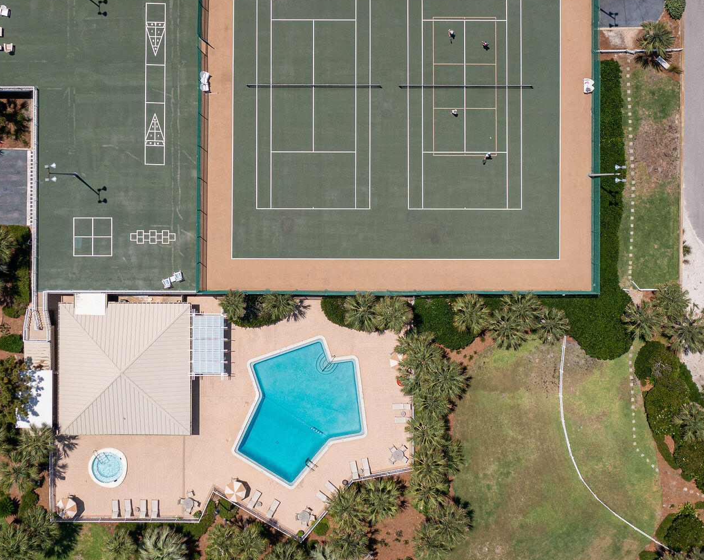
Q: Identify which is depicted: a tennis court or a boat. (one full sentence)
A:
Looking from above, you can make out a tennis court.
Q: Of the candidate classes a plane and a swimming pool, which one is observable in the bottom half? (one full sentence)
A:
What appears in the bottom half is a swimming pool.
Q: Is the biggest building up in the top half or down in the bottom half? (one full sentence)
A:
The biggest building sits in the bottom half of the picture.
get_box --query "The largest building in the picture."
[58,296,193,435]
